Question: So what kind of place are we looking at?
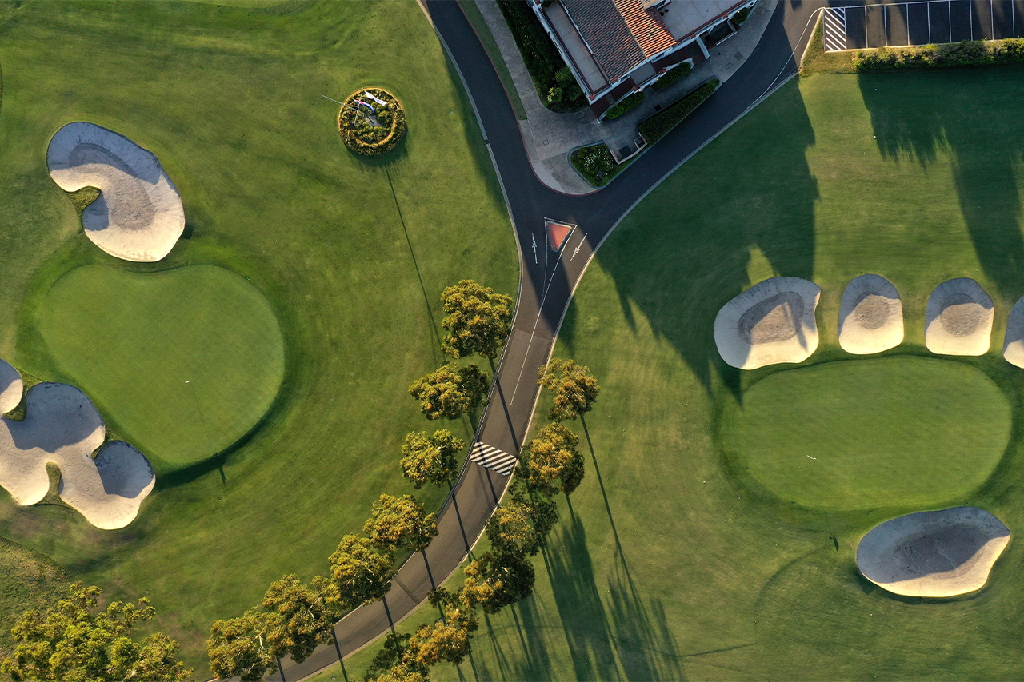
golf course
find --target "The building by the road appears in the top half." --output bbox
[528,0,760,122]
